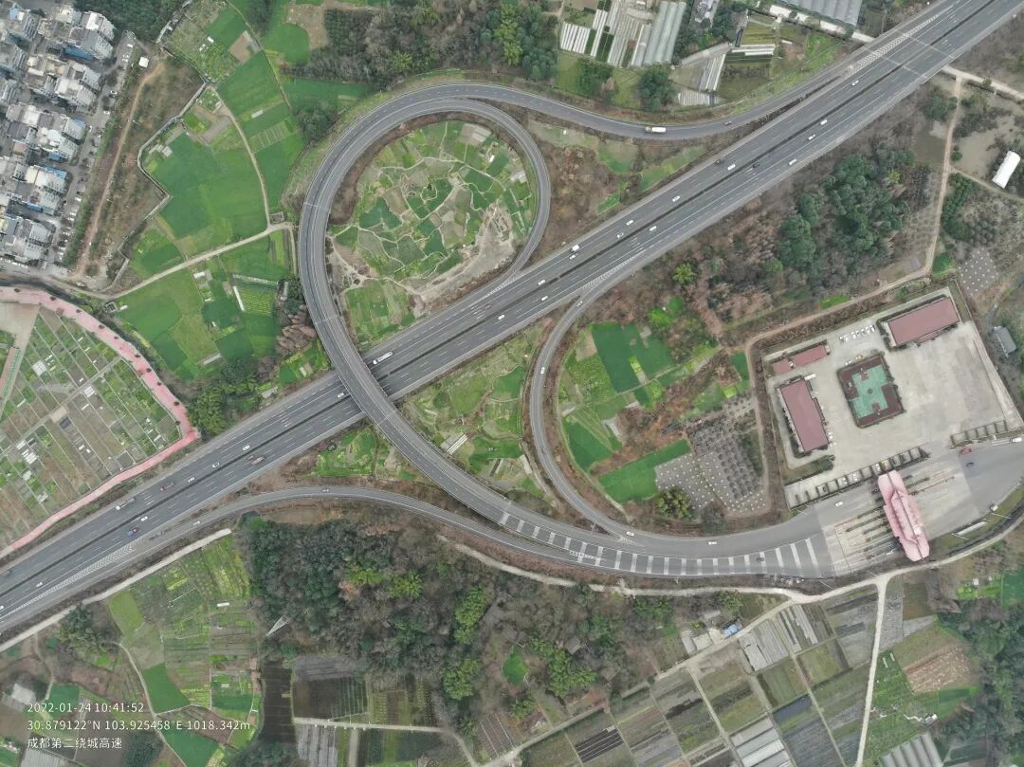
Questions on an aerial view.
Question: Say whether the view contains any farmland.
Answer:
Yes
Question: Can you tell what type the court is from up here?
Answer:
basketball court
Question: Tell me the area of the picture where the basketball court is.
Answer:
right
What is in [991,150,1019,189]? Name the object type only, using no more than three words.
greenhouse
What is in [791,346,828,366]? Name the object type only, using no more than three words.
building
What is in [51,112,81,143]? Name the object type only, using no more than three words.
house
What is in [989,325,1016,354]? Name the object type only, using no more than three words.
shed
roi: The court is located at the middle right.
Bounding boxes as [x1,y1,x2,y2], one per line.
[839,356,905,427]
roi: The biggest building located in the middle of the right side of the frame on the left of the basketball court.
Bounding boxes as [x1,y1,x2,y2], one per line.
[777,378,829,453]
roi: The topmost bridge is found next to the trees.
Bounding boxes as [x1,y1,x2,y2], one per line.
[854,15,956,113]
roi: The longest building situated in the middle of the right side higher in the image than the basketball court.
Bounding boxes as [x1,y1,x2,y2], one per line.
[880,298,959,347]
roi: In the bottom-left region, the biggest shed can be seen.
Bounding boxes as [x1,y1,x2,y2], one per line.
[9,683,37,703]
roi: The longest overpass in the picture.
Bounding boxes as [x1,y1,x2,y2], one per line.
[299,205,522,518]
